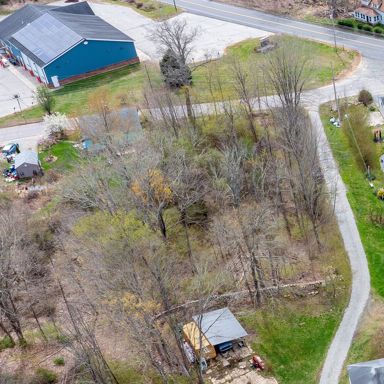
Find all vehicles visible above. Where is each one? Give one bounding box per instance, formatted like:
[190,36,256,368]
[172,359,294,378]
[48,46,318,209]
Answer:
[0,141,22,154]
[216,342,233,355]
